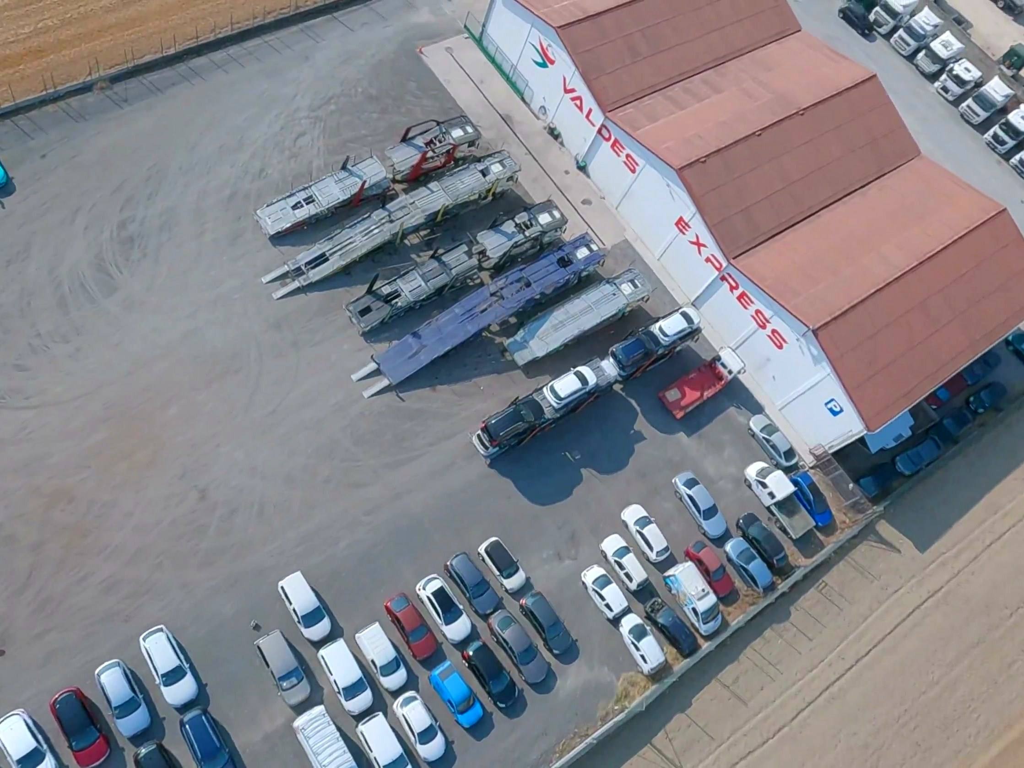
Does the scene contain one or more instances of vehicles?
Yes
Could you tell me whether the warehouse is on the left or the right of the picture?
right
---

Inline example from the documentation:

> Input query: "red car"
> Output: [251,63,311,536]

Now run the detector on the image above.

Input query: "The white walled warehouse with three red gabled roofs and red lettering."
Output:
[477,0,1024,462]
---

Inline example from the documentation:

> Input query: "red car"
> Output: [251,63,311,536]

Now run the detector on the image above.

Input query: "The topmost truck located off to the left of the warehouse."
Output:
[378,113,484,187]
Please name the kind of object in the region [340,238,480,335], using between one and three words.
trailer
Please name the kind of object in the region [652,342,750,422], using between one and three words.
truck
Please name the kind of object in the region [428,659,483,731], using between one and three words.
van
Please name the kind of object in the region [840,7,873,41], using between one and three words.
car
